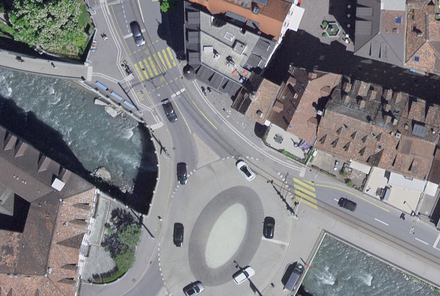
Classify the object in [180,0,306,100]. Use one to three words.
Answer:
building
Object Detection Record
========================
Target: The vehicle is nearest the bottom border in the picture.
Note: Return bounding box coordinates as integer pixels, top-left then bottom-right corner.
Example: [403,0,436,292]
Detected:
[182,281,204,296]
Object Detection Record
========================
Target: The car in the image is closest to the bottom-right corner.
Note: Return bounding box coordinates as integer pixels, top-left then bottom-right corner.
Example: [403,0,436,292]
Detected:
[336,196,357,212]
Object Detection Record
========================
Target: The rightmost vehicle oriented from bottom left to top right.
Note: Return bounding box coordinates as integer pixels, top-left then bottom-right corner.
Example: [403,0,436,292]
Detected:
[282,262,303,290]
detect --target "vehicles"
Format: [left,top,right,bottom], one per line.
[231,266,254,284]
[182,281,204,296]
[262,216,274,239]
[336,196,357,212]
[176,162,187,184]
[235,160,255,181]
[282,262,303,290]
[160,98,178,122]
[128,20,146,45]
[172,223,182,246]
